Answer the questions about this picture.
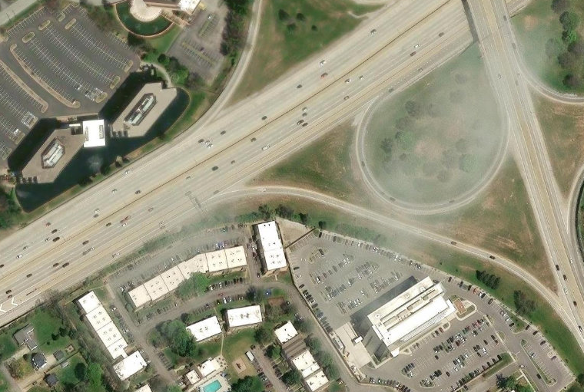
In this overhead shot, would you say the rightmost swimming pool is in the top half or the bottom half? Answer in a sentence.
The bottom half of the photo is where the rightmost swimming pool is.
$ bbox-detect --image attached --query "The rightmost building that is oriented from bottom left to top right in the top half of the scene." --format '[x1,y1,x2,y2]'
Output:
[106,83,176,141]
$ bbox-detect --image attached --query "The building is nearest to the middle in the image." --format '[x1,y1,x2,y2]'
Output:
[255,221,287,271]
